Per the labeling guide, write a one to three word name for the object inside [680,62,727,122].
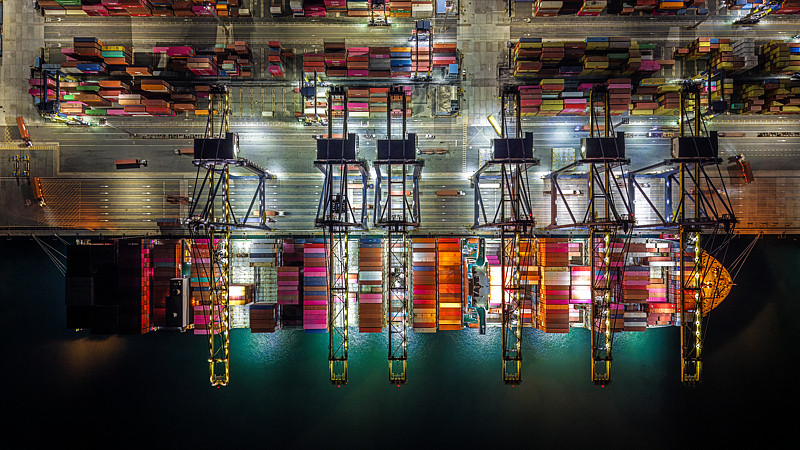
crane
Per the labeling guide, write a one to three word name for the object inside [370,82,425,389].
container crane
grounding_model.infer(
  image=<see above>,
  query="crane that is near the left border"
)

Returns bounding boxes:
[40,62,89,122]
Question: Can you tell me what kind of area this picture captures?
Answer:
port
